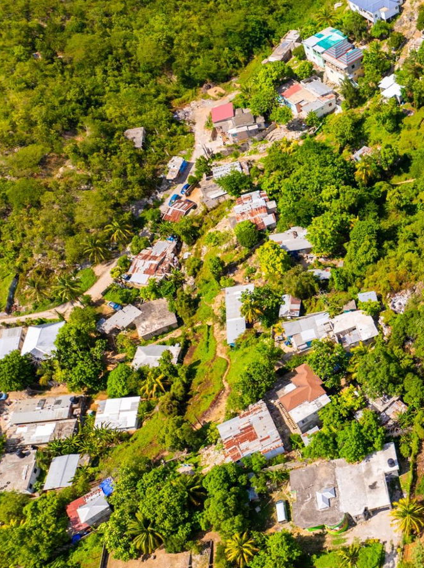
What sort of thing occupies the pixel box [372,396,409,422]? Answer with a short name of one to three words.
house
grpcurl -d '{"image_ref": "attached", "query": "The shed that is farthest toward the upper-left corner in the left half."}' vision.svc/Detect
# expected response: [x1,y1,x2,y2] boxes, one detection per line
[125,127,147,159]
